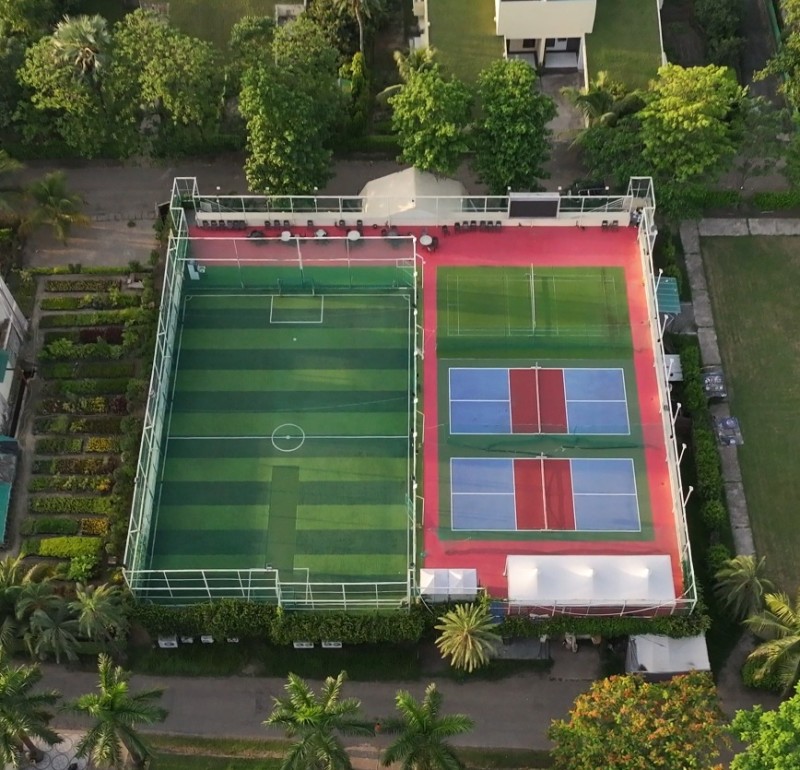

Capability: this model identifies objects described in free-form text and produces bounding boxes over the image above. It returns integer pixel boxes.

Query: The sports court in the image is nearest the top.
[436,266,635,358]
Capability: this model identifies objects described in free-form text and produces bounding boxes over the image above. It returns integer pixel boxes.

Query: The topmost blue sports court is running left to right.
[449,369,630,433]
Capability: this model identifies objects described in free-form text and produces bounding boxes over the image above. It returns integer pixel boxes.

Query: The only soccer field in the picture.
[134,266,412,615]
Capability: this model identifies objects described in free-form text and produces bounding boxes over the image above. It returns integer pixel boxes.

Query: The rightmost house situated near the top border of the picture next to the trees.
[495,0,595,70]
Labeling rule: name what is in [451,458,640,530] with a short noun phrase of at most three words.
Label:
sports court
